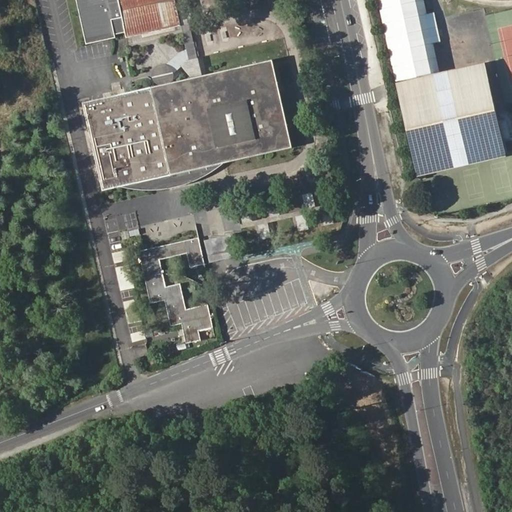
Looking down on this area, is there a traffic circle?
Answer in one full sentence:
Yes, looking at the shot, I can spot a traffic circle.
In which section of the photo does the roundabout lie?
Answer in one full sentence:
The roundabout appears toward the right of the photo.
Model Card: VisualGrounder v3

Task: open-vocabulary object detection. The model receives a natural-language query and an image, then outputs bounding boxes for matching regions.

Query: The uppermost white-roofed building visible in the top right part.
[380,0,441,82]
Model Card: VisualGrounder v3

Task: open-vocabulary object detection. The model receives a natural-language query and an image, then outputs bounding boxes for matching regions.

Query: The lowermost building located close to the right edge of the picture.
[396,62,507,176]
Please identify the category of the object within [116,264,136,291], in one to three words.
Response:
building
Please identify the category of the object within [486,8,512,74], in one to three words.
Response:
sports court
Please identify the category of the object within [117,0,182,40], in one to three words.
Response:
building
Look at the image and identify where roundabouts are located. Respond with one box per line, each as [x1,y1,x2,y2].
[319,216,480,374]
